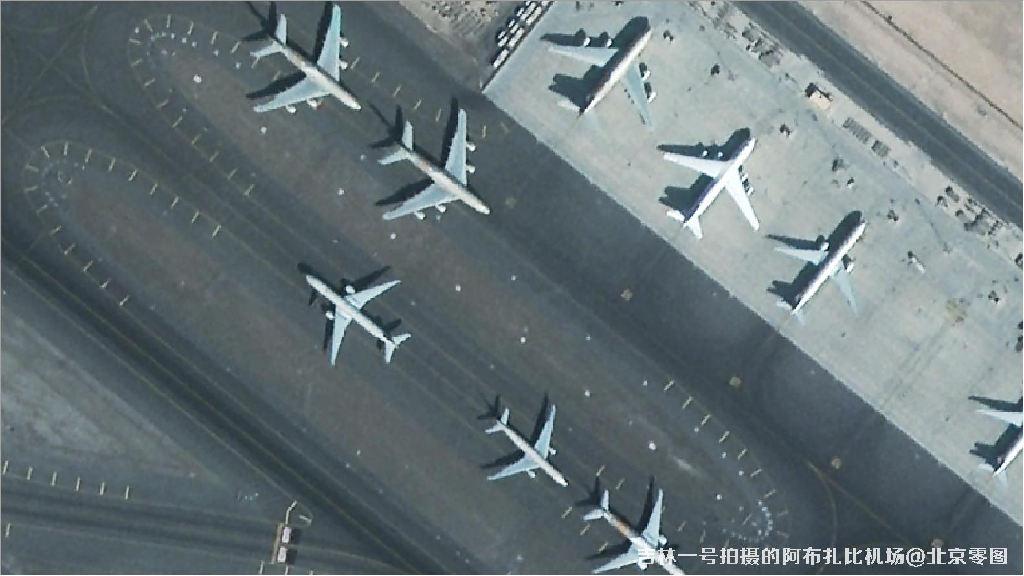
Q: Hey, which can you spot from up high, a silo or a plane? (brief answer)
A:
plane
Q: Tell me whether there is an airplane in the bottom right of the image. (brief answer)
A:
Yes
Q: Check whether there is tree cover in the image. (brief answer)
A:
No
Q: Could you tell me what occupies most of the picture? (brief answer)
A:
paved ground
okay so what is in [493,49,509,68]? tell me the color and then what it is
white vehicle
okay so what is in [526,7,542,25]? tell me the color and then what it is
white vehicle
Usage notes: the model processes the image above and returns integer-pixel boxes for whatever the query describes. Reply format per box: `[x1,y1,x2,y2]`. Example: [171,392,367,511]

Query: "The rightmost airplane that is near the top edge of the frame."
[546,25,657,133]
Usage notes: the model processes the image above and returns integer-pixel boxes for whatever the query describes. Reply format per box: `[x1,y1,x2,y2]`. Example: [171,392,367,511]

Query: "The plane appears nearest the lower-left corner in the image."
[306,274,406,365]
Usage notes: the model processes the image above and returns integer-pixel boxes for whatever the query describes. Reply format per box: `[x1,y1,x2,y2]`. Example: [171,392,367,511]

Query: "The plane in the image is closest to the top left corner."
[252,4,361,114]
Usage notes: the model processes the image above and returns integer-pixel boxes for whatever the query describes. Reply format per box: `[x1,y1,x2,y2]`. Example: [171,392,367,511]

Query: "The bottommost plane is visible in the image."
[586,490,685,576]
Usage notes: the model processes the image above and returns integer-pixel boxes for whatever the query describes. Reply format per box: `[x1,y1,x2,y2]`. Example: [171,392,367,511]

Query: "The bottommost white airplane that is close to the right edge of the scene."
[975,405,1024,482]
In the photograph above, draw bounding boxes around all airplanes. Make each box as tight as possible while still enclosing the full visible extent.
[586,490,685,576]
[252,4,361,114]
[546,25,657,133]
[975,405,1024,482]
[661,138,758,243]
[306,274,406,365]
[774,223,866,323]
[380,110,490,222]
[488,409,567,485]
